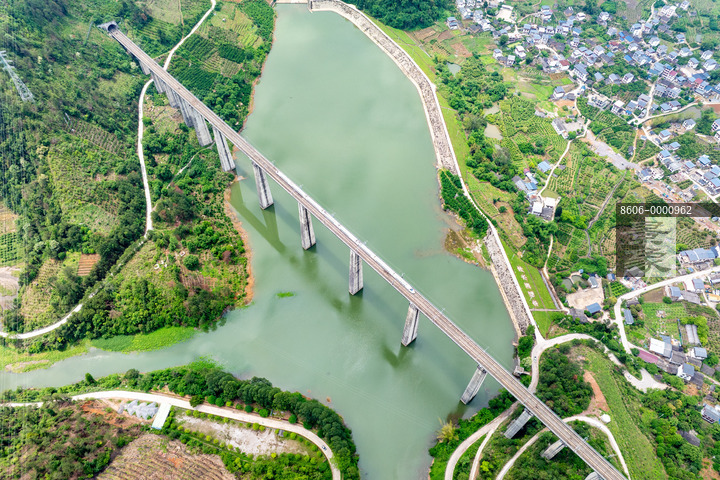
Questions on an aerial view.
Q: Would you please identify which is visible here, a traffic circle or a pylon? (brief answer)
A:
pylon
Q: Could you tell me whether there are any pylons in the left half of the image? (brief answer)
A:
Yes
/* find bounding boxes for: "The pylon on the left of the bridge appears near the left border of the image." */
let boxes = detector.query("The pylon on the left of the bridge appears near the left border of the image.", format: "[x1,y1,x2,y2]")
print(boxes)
[2,66,33,105]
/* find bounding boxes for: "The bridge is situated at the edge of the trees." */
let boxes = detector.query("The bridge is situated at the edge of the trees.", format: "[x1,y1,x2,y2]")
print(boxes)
[109,27,632,480]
